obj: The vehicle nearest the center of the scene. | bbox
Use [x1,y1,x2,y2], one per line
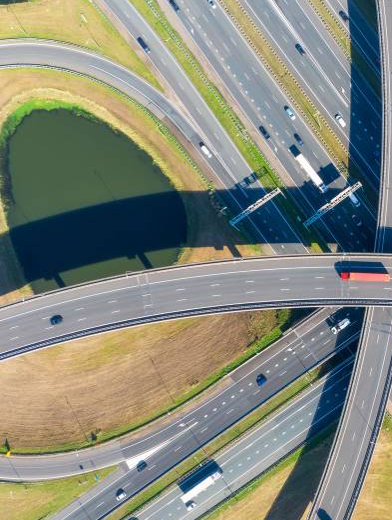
[200,145,214,160]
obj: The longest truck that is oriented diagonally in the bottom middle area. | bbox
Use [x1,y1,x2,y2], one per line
[180,470,224,506]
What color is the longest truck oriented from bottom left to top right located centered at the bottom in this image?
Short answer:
white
